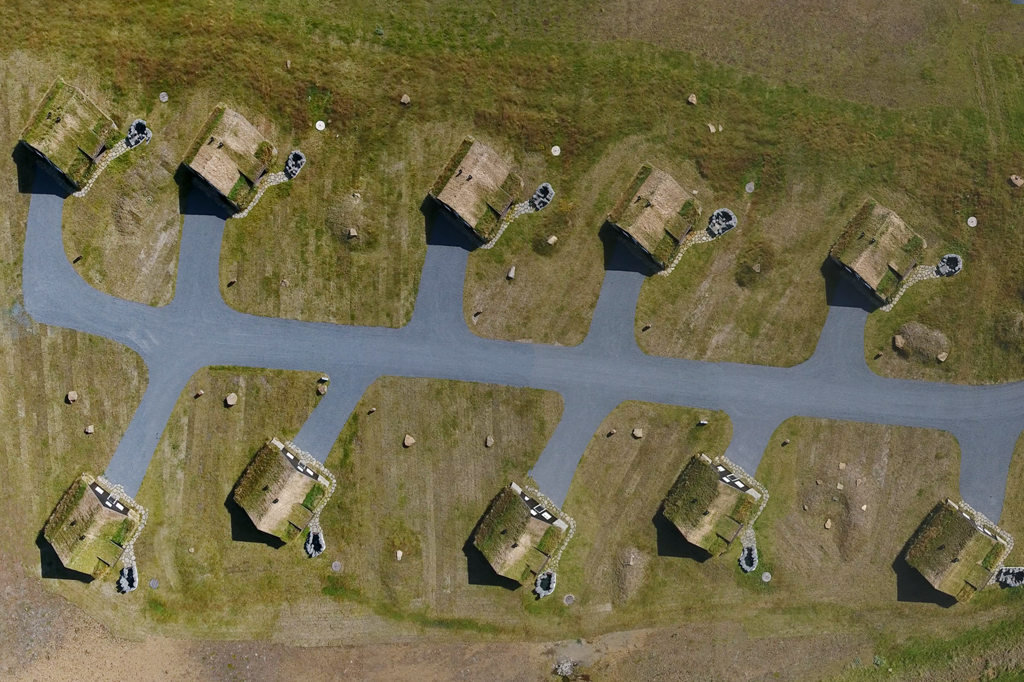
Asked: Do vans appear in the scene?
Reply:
No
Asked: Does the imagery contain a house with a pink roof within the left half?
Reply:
No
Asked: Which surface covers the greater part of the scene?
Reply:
grass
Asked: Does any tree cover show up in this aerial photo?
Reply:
No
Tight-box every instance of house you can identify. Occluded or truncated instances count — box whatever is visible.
[906,496,1005,606]
[428,134,528,243]
[471,479,571,589]
[232,436,334,546]
[18,76,122,188]
[42,471,146,582]
[180,100,282,211]
[829,196,927,303]
[661,449,761,559]
[606,160,705,269]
